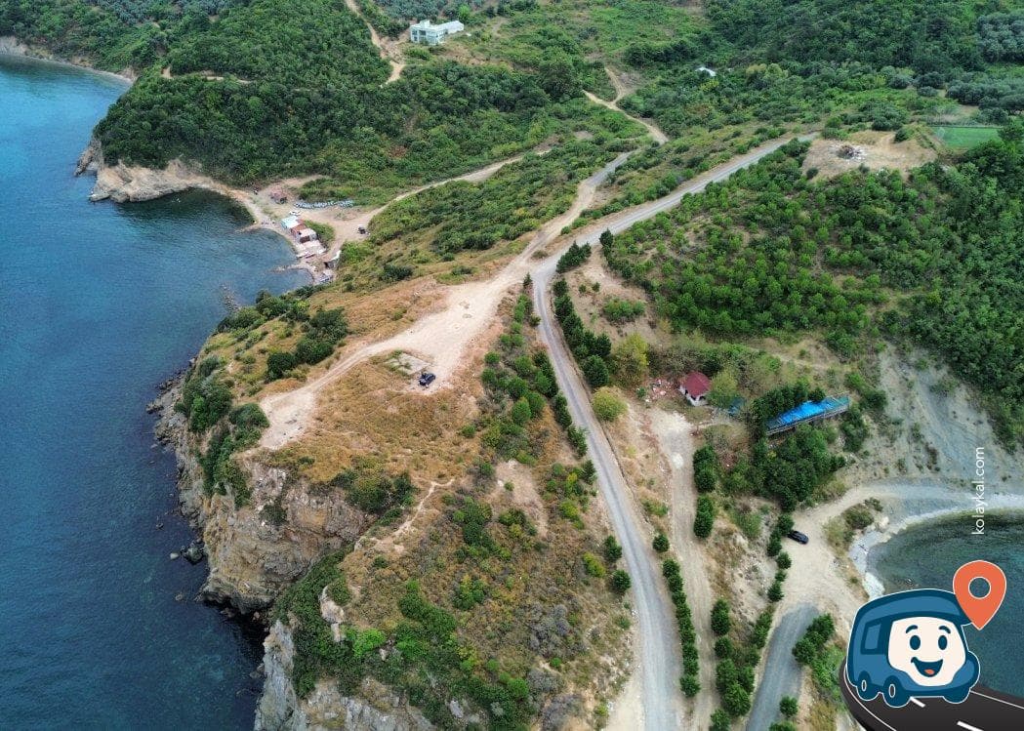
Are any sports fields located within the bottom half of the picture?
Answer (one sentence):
No, no sports field appears within the bottom half of the picture.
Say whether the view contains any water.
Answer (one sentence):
Yes, the picture does contain water.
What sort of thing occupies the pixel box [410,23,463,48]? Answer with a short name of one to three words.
house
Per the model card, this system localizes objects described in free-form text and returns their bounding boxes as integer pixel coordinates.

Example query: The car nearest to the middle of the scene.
[416,366,436,383]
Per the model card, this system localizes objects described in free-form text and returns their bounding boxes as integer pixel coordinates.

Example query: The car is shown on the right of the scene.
[787,528,811,543]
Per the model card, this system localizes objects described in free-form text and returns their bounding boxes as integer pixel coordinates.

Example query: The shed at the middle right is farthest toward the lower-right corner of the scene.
[761,392,850,436]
